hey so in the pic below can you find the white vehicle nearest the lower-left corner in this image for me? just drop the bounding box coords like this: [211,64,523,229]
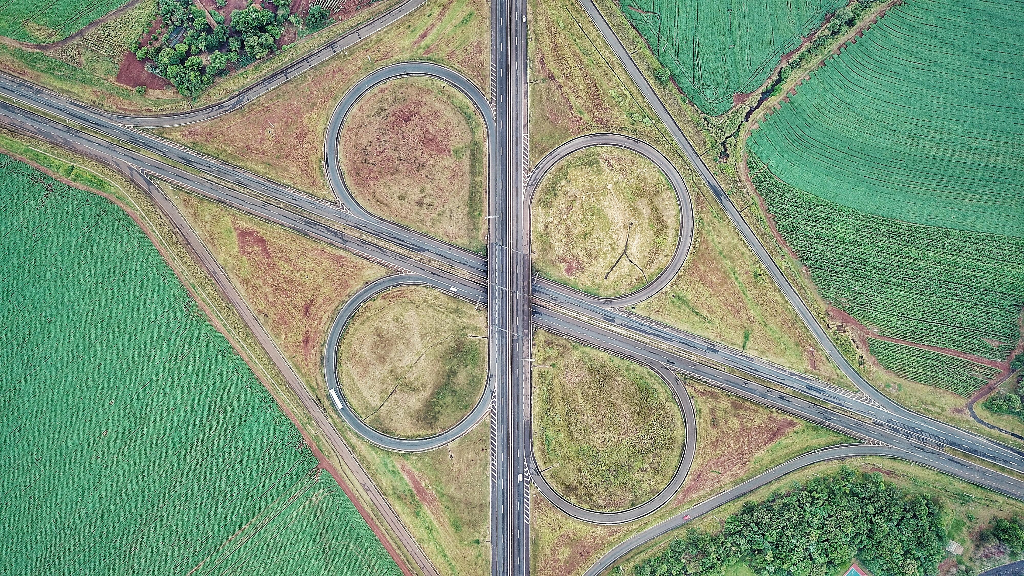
[330,389,344,411]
